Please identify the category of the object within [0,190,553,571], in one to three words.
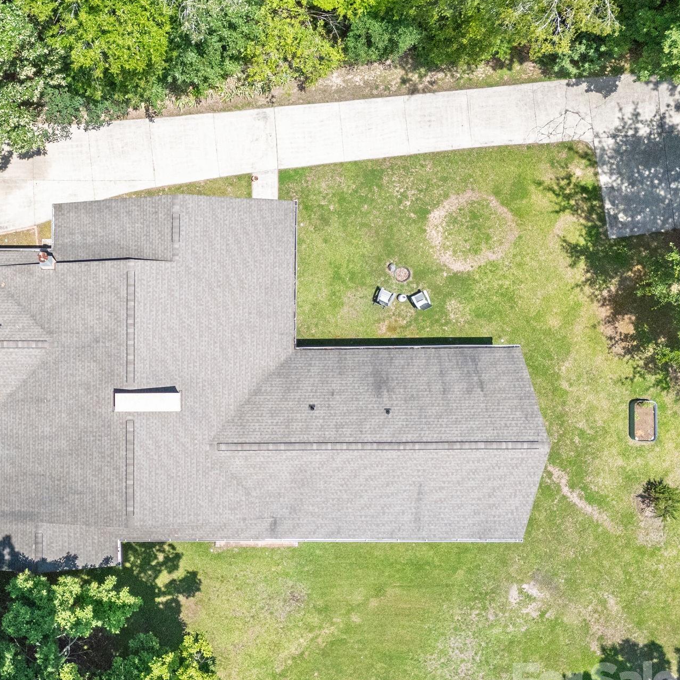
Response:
house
